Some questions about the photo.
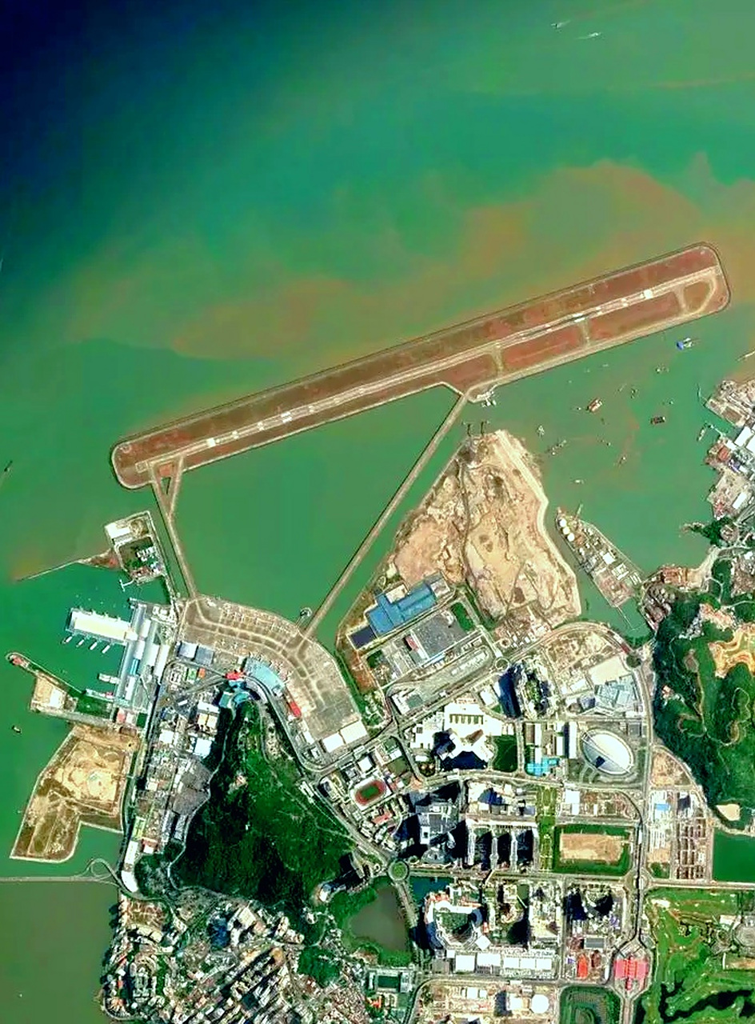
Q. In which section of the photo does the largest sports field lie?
bottom right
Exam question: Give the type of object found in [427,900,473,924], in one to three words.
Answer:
building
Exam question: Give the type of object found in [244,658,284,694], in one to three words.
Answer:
building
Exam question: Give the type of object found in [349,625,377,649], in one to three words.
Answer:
shed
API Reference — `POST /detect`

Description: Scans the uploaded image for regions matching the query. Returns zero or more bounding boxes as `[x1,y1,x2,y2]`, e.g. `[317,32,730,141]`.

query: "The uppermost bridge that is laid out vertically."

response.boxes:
[148,470,196,598]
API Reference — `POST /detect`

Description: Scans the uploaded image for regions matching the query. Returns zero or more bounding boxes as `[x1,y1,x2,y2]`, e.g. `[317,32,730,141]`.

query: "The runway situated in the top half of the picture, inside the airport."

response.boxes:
[133,265,717,472]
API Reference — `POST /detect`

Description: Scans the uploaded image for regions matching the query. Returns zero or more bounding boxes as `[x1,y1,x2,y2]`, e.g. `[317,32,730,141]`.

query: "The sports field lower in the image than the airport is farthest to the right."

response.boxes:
[552,824,632,875]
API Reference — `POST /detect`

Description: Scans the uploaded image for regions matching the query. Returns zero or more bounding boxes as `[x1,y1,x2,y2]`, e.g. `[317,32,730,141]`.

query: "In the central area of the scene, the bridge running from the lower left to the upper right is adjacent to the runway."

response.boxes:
[303,396,467,642]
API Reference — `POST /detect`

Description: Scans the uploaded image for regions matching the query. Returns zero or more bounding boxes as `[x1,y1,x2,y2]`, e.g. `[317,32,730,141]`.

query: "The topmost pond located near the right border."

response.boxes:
[712,828,755,883]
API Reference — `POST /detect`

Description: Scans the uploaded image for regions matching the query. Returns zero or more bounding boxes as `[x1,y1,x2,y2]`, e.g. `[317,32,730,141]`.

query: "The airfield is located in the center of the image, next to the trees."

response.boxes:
[110,240,732,748]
